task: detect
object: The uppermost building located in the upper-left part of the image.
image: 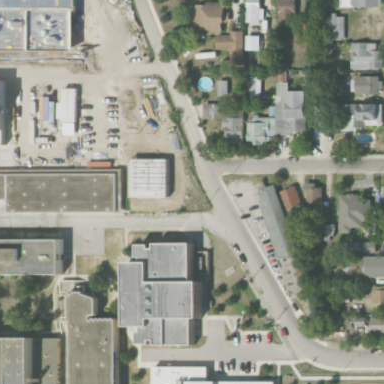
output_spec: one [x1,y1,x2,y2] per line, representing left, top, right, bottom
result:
[0,0,78,50]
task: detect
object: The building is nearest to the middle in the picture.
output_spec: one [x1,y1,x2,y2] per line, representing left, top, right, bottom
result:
[128,159,170,197]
